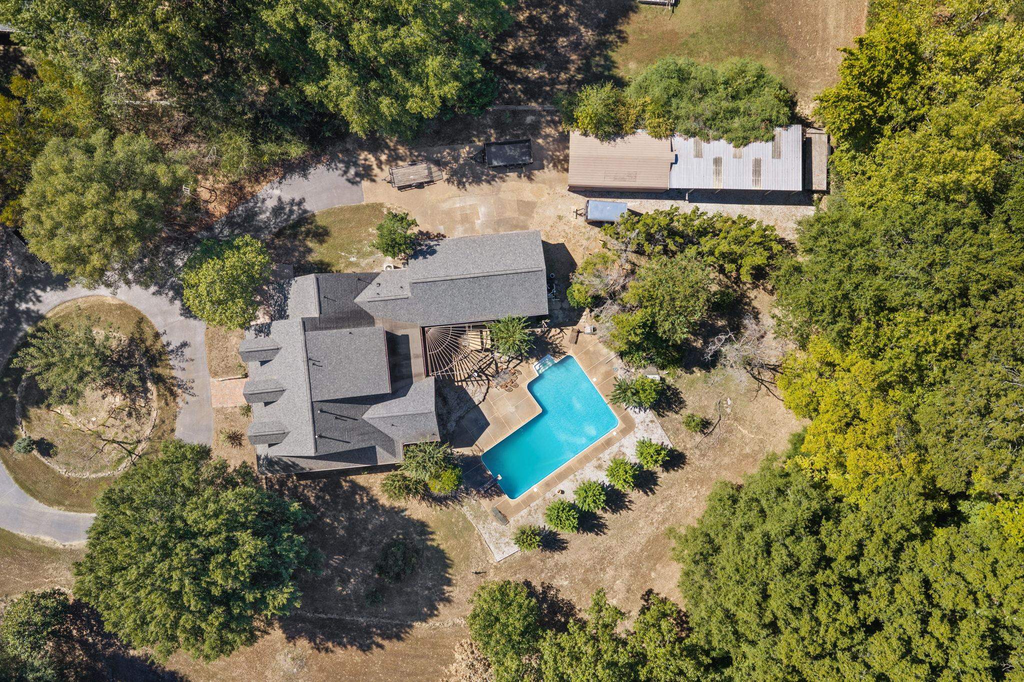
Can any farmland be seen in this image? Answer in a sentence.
No, the picture contains no farmland.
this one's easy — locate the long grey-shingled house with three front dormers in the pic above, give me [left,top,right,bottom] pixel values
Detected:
[240,229,548,475]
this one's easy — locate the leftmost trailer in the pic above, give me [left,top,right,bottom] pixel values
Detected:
[380,160,444,191]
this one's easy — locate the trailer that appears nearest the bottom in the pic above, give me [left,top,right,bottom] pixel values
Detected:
[569,201,627,228]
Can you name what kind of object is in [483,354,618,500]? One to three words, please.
swimming pool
